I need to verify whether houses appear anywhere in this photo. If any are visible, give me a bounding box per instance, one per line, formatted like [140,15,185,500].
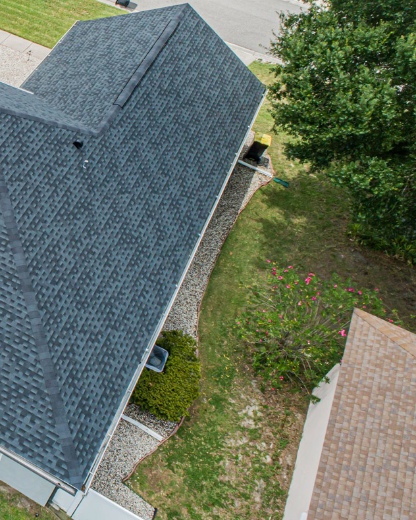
[0,2,270,506]
[282,307,416,520]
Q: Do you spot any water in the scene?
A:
No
